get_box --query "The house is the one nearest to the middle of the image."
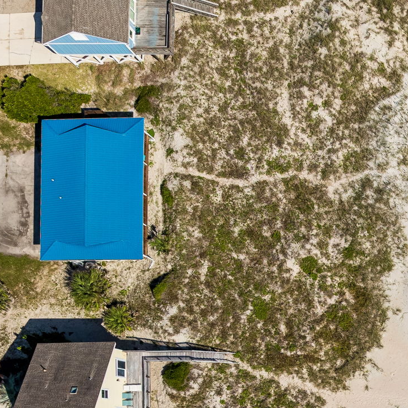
[41,118,150,267]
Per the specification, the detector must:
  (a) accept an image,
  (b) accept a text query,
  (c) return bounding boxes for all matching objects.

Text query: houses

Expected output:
[12,343,128,408]
[43,0,142,68]
[41,118,150,267]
